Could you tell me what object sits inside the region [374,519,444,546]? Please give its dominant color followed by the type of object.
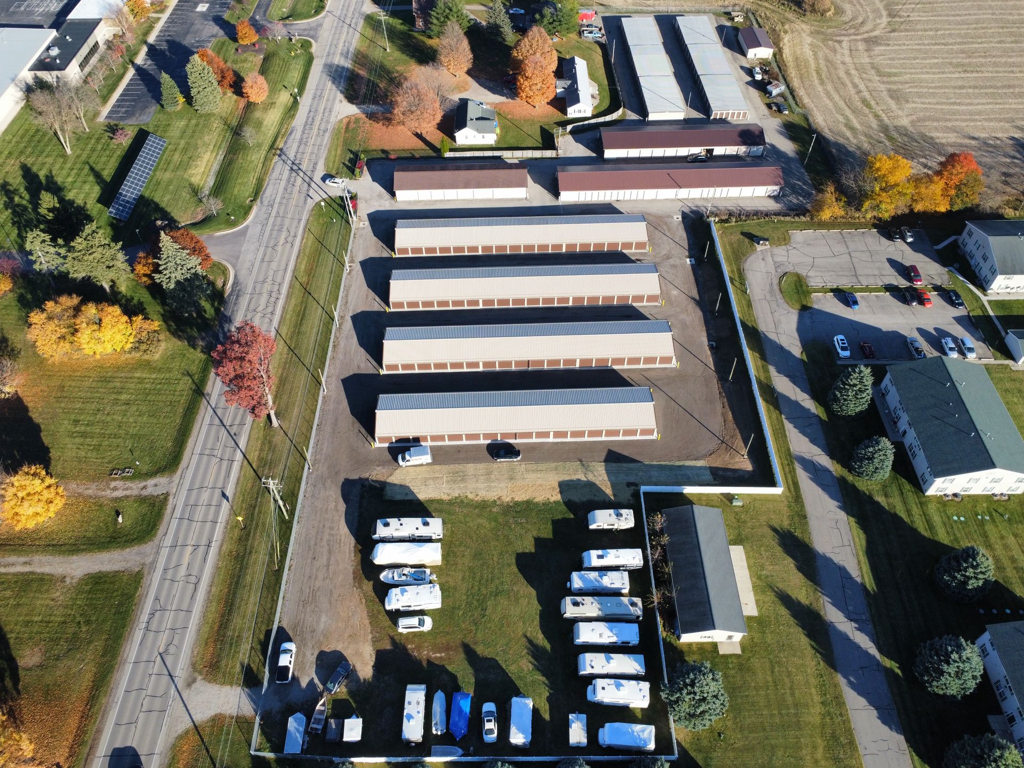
white camper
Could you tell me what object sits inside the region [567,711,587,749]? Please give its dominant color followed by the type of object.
white camper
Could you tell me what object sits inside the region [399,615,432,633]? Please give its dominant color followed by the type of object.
white car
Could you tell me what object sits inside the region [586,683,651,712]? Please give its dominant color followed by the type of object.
white vehicle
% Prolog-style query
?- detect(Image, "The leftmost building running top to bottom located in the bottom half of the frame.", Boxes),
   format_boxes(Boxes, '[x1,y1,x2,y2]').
[661,505,747,642]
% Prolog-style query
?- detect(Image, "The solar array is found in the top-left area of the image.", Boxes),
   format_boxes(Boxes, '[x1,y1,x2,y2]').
[108,133,166,221]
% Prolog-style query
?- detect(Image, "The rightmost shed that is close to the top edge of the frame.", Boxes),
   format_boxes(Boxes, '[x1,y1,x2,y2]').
[737,25,774,59]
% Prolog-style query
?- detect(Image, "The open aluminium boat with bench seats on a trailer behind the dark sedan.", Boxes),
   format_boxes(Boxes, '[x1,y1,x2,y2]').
[309,695,327,732]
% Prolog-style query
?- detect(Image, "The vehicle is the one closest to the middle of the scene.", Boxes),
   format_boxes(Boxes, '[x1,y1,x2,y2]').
[493,448,521,462]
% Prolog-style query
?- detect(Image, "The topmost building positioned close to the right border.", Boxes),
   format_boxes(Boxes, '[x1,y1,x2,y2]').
[958,222,1024,292]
